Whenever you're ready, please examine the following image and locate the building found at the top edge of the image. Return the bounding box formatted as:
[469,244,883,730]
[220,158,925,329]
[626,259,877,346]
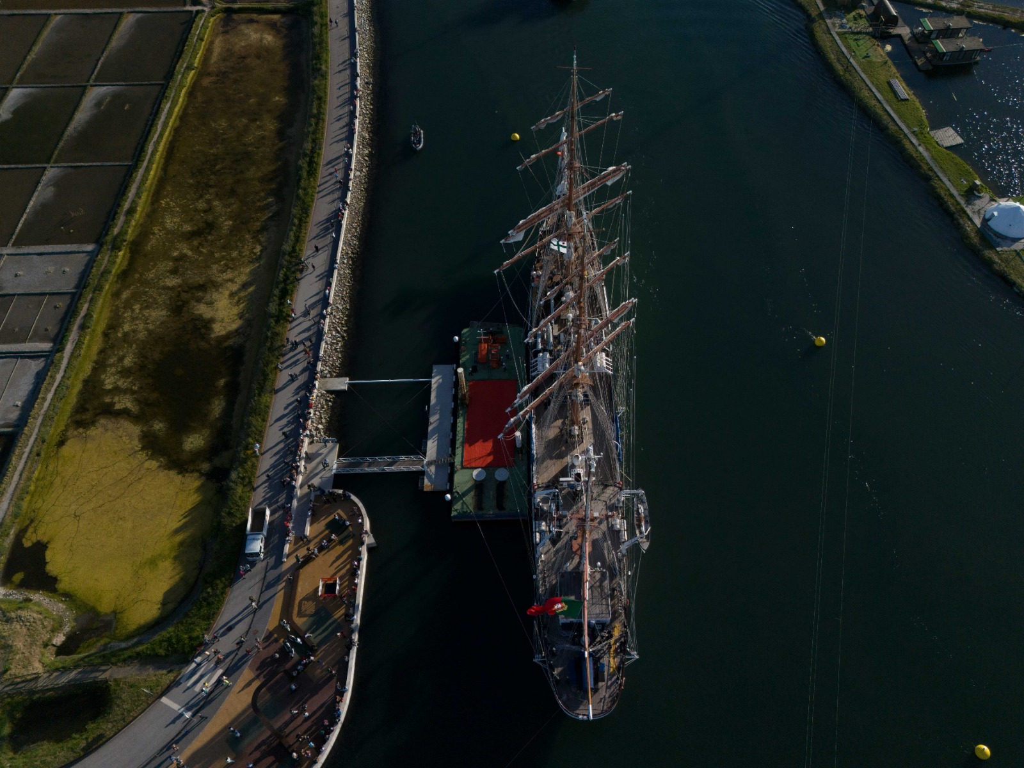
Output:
[866,0,905,28]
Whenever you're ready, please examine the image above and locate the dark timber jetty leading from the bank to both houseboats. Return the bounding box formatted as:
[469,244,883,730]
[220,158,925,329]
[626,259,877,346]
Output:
[869,23,934,71]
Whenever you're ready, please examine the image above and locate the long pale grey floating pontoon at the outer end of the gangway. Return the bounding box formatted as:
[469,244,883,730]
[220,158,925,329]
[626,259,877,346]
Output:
[419,365,457,494]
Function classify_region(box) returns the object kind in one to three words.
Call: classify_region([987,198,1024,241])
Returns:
tent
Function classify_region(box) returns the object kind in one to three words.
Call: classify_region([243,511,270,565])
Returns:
truck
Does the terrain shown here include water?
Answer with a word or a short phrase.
Yes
